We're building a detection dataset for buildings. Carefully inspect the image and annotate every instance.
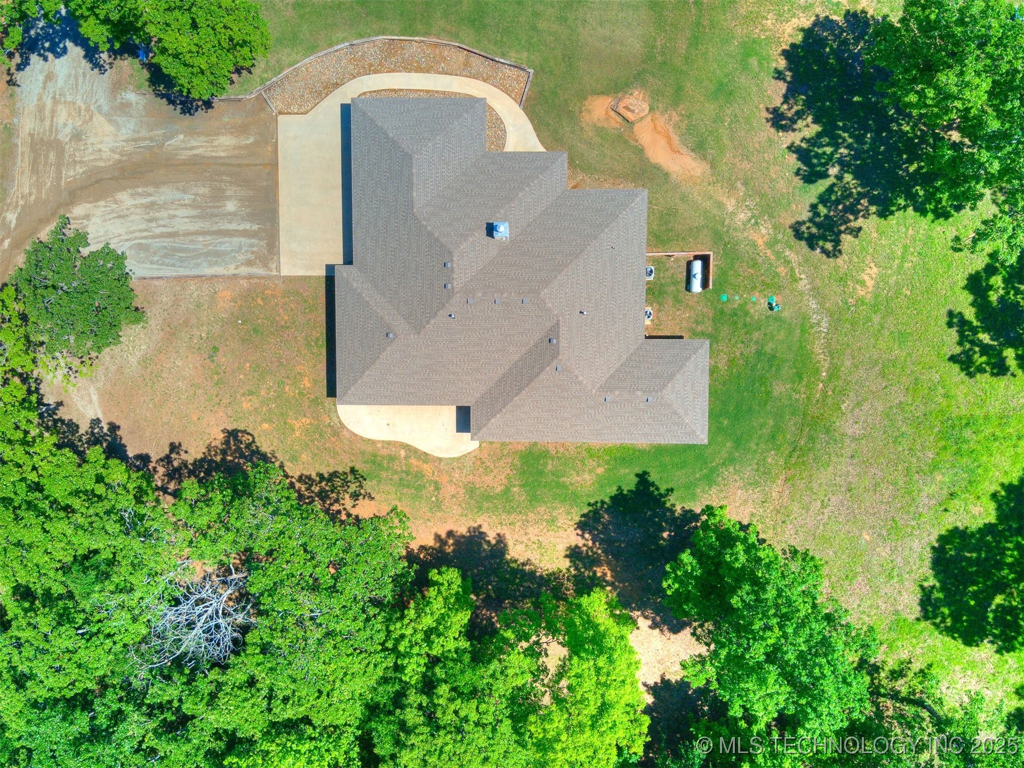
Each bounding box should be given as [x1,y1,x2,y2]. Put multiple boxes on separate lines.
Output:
[334,96,711,445]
